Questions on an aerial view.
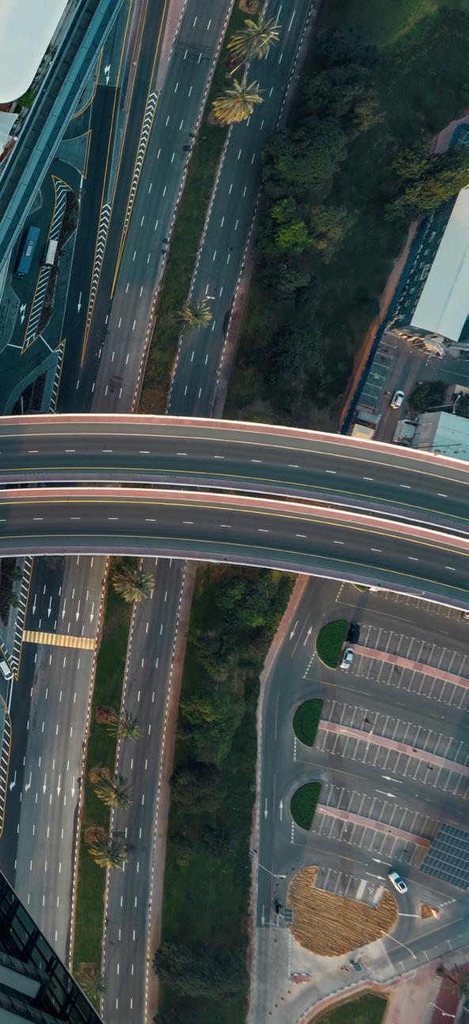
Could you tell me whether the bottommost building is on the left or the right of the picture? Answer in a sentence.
The bottommost building sits on the left side.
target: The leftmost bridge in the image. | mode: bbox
[0,0,119,273]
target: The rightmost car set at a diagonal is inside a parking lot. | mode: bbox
[390,872,408,893]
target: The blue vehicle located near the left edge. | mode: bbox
[15,225,42,276]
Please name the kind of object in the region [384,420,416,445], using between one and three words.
shed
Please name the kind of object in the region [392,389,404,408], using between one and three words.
vehicle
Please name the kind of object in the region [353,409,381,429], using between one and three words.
shed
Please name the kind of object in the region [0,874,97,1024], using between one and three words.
building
